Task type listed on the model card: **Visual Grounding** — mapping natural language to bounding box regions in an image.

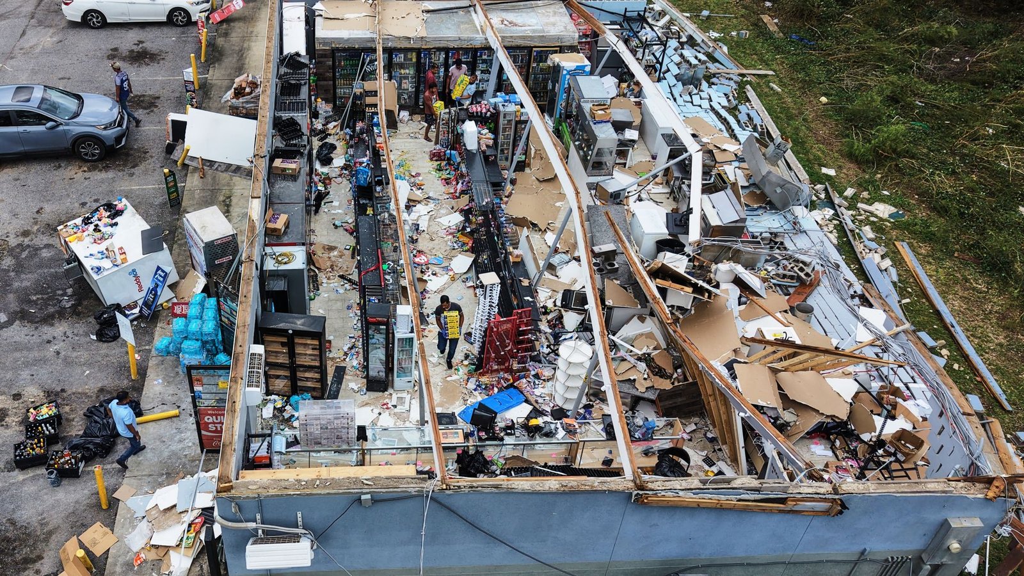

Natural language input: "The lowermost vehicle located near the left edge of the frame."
[0,79,128,162]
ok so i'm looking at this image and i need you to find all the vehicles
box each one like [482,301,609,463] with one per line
[0,79,128,162]
[55,0,209,28]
